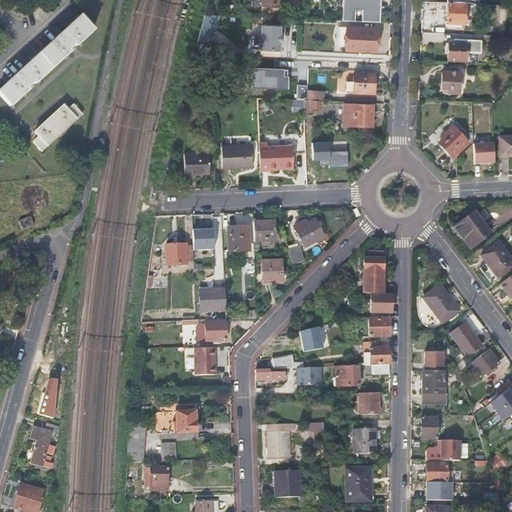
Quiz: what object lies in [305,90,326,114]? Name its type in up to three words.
building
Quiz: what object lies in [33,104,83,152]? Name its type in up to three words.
building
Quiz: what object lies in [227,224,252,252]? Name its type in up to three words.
house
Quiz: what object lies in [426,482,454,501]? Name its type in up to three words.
house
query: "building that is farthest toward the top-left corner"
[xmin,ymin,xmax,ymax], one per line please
[0,12,98,109]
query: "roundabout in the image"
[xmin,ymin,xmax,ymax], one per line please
[352,146,450,241]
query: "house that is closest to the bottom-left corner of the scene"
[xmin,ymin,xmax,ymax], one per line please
[14,480,47,512]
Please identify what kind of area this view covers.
residential area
